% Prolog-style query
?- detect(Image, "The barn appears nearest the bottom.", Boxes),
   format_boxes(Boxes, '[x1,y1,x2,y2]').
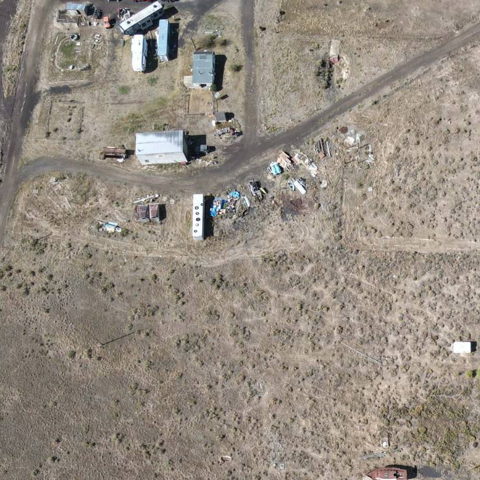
[136,127,188,165]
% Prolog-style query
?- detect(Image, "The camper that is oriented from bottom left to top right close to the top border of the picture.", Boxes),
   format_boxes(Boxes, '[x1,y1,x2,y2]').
[120,1,166,38]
